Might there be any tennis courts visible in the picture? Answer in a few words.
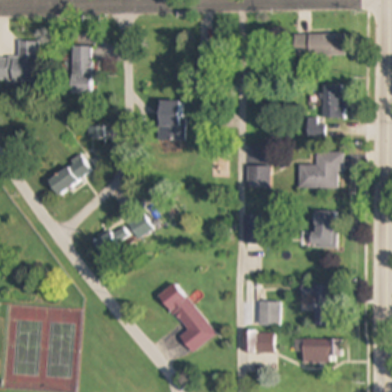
Yes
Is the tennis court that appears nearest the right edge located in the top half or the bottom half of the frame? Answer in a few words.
bottom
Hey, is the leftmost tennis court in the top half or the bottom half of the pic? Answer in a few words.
bottom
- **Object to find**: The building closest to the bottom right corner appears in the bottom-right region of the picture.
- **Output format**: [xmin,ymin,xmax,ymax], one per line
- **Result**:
[296,338,346,369]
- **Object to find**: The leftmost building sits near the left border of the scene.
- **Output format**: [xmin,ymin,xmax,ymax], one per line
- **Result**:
[0,40,42,82]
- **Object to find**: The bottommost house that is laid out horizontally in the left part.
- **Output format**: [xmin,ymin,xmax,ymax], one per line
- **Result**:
[99,216,153,242]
